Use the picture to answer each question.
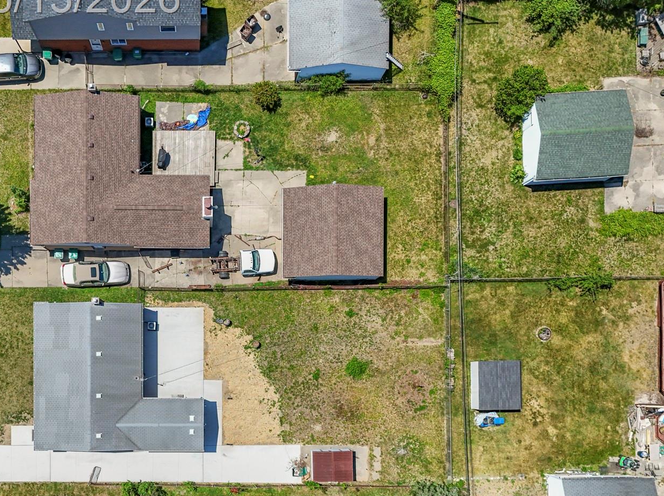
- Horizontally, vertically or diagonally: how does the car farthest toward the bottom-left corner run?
horizontally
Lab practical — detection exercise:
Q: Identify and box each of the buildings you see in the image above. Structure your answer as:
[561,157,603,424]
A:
[10,0,211,55]
[29,84,213,250]
[311,450,353,481]
[470,361,522,410]
[282,180,385,283]
[519,89,635,186]
[33,297,205,452]
[546,474,659,496]
[288,0,390,78]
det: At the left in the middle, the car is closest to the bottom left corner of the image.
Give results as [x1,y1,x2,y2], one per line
[62,258,131,289]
